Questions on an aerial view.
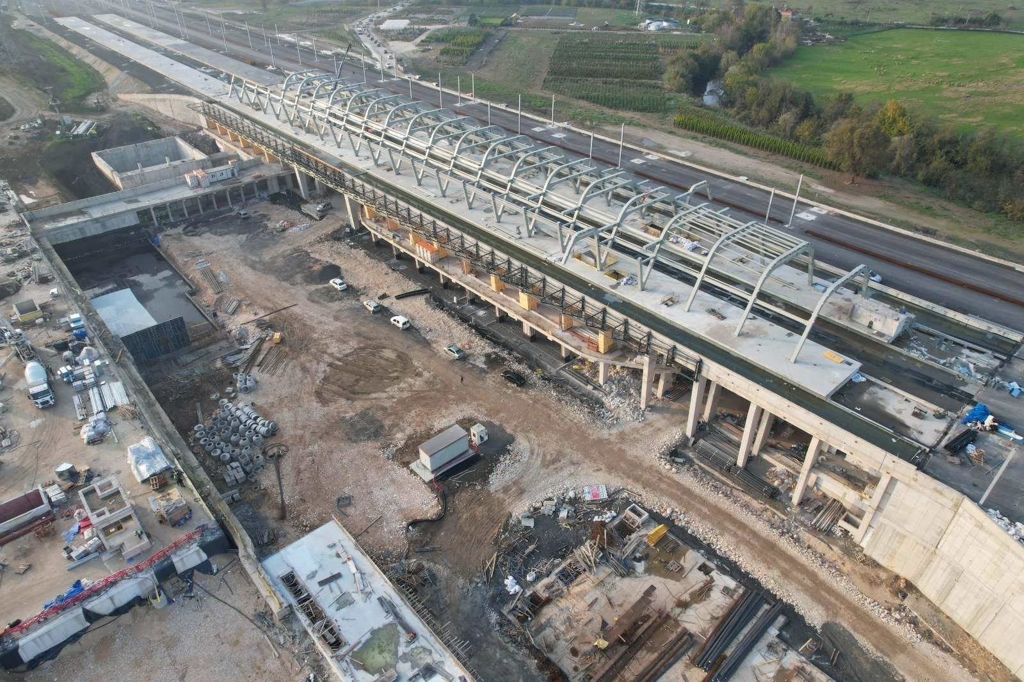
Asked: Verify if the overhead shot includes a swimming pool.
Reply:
No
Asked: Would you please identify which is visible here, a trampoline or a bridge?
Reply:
bridge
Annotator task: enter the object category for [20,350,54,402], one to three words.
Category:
truck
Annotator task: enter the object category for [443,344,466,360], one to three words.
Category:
car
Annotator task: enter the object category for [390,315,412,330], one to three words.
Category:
vehicle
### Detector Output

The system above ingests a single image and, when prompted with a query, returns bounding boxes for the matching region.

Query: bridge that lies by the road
[200,102,963,550]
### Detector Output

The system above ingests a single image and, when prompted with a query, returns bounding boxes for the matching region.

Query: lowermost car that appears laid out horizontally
[499,372,528,387]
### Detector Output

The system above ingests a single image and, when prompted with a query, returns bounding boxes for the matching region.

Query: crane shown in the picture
[319,43,354,146]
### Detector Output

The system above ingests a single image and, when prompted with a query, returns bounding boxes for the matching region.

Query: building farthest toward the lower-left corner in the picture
[69,470,160,549]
